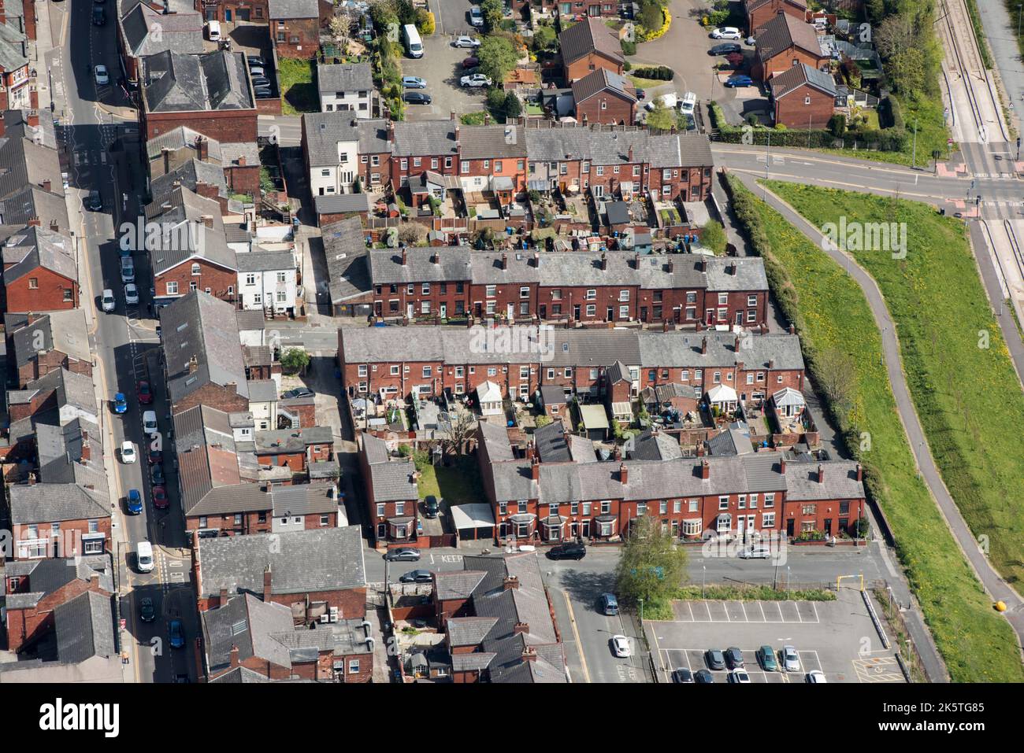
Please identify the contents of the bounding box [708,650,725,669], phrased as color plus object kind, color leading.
gray car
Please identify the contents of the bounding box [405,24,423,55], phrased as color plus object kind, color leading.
white vehicle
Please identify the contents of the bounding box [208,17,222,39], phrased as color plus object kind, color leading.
white vehicle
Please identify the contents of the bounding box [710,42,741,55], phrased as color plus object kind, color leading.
black vehicle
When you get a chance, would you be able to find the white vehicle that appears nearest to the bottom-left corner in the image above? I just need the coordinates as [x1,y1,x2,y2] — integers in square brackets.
[137,539,155,570]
